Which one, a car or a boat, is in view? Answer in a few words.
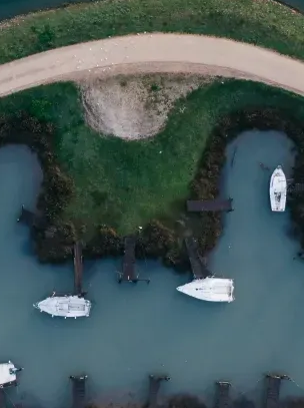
boat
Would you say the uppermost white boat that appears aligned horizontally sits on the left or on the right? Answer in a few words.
right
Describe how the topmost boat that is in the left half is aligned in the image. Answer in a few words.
from left to right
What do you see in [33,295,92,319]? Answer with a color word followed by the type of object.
white boat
